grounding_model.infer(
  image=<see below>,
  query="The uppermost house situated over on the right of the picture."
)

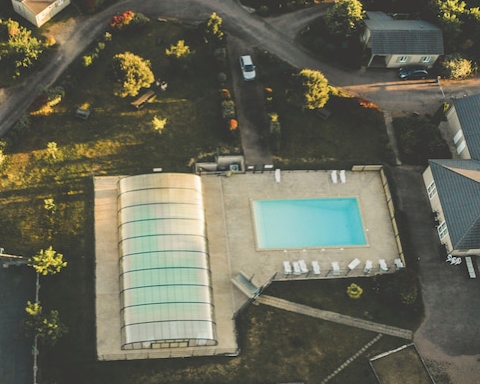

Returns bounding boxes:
[362,12,446,66]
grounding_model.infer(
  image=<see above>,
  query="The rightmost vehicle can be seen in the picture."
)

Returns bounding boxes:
[398,65,430,82]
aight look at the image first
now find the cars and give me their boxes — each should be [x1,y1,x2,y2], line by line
[239,53,258,83]
[398,65,430,82]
